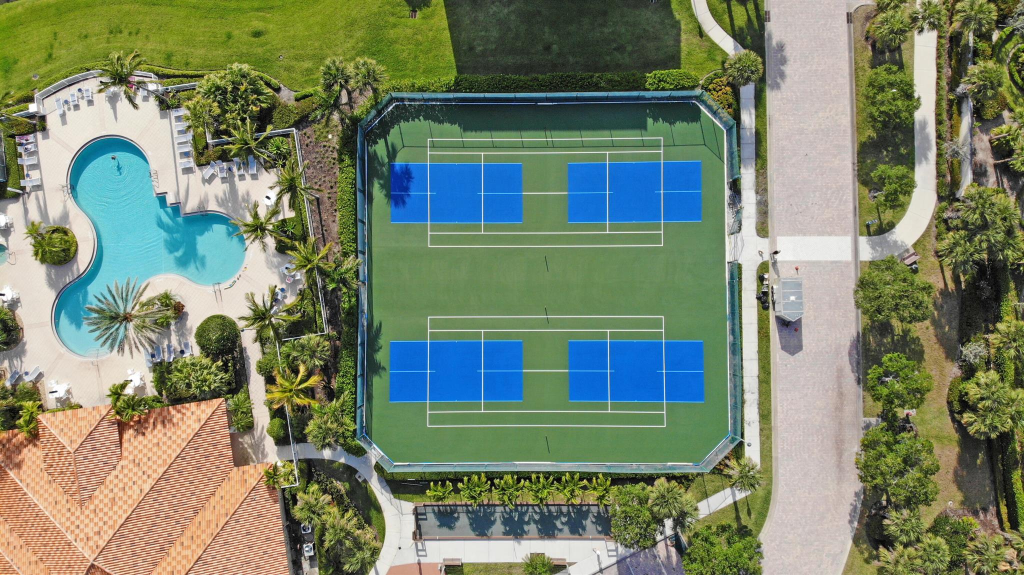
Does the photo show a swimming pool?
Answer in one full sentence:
Yes, I can see a swimming pool in this picture.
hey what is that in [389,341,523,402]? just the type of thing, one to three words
sports court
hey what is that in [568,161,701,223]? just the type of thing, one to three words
sports court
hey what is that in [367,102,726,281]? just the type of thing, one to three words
tennis court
